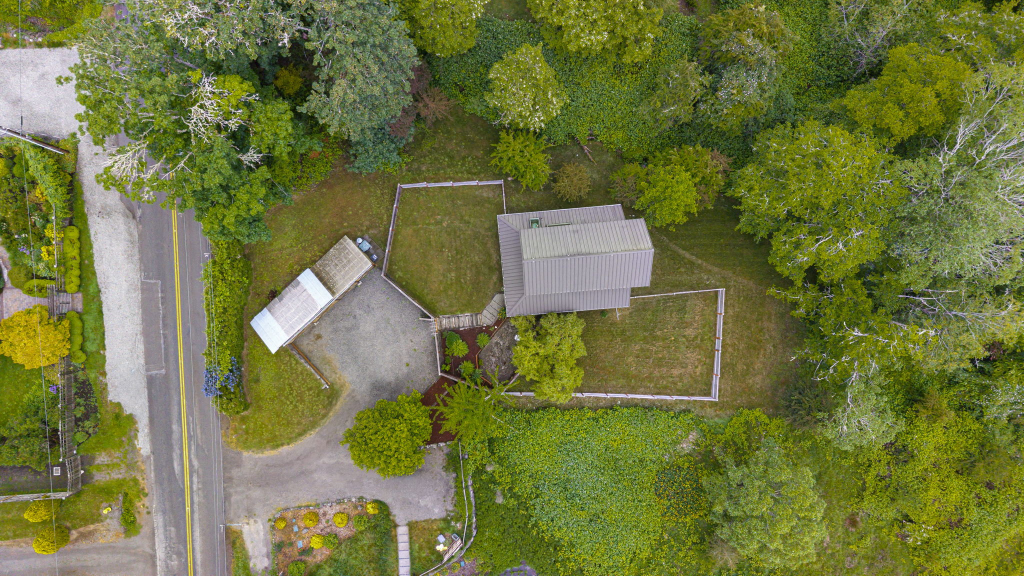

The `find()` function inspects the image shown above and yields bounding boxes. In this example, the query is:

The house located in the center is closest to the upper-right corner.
[496,203,654,318]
